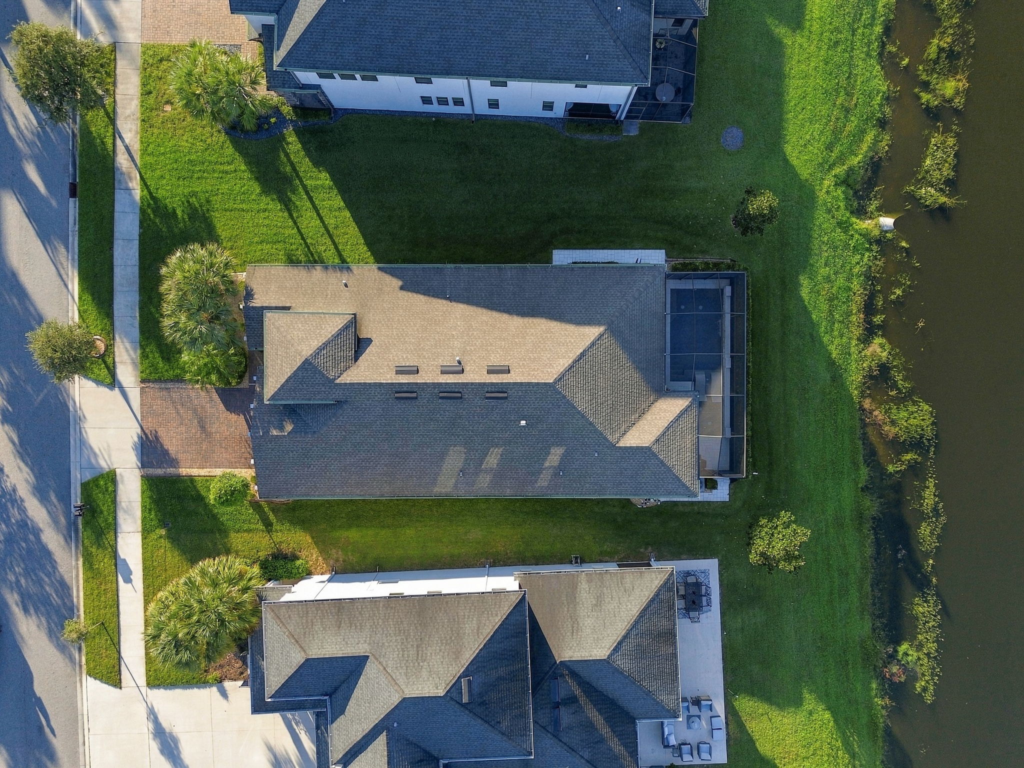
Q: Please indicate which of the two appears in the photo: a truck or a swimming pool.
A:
swimming pool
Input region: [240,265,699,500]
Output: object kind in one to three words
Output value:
house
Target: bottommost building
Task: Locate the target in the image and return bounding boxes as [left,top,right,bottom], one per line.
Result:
[246,555,682,768]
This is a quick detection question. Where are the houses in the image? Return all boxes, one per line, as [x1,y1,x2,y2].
[246,555,682,768]
[226,0,712,121]
[240,265,699,500]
